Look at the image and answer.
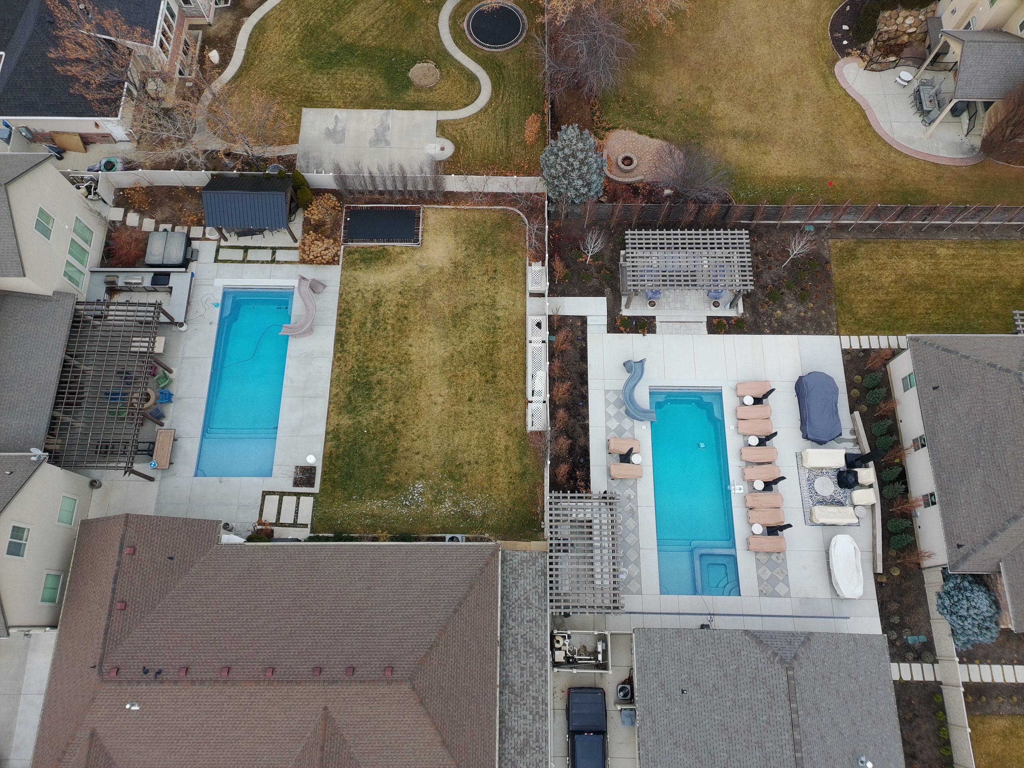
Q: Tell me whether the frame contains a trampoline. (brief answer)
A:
Yes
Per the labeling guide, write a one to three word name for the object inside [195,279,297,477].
swimming pool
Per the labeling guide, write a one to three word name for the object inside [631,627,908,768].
house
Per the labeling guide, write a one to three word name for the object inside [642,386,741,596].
swimming pool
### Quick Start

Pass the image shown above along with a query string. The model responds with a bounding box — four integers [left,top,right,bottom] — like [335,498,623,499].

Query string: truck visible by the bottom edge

[566,684,613,768]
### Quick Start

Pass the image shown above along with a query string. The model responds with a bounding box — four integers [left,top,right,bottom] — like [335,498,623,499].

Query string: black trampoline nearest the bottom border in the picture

[340,204,425,250]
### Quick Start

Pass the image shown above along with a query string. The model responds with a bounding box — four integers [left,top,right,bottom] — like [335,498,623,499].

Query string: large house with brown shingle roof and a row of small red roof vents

[29,512,502,768]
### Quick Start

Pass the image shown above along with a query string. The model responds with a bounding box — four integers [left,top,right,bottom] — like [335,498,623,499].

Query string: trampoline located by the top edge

[464,1,529,53]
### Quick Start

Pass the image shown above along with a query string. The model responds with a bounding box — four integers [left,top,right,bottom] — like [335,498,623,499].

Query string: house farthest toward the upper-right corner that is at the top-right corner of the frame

[912,0,1024,138]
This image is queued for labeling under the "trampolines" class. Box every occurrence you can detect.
[464,1,529,53]
[340,204,425,250]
